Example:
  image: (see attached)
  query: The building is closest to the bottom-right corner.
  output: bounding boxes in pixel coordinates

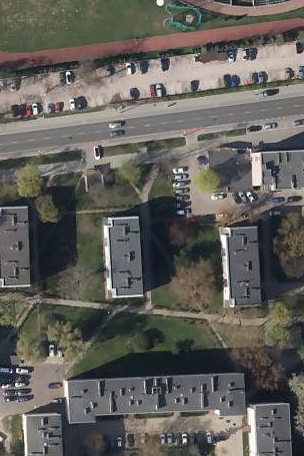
[248,402,291,456]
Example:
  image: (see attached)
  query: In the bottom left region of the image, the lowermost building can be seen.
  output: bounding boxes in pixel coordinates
[23,413,63,456]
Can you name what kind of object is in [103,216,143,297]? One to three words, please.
building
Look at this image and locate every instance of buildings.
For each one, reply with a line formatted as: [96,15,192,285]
[23,413,63,456]
[65,373,245,424]
[250,150,304,192]
[103,216,143,297]
[248,402,291,456]
[0,207,31,287]
[224,227,261,307]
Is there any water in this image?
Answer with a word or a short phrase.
No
